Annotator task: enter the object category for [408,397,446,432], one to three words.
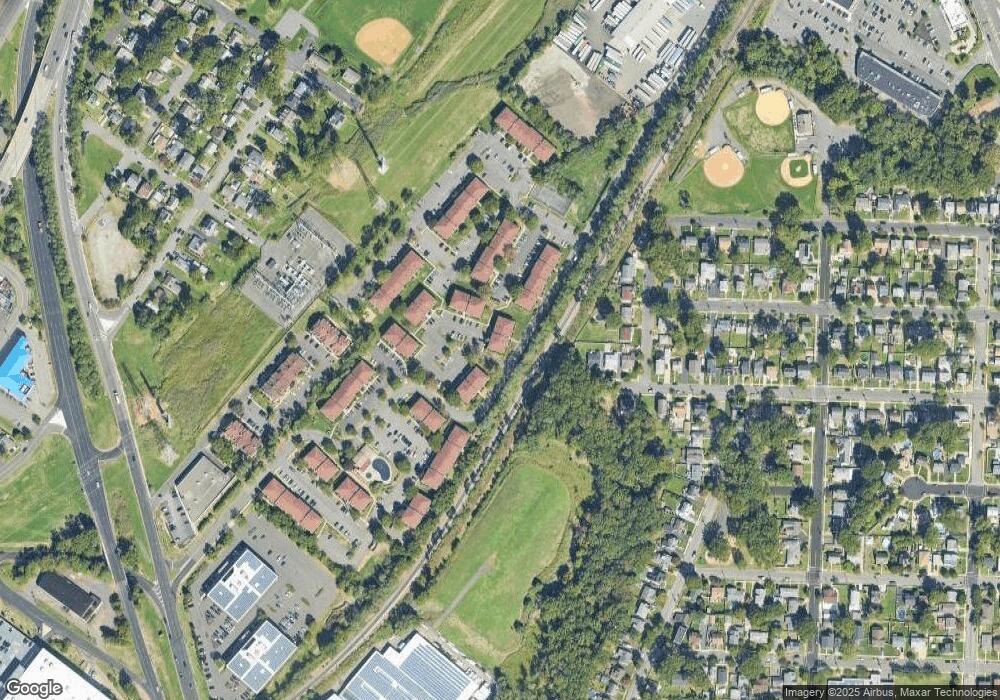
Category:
building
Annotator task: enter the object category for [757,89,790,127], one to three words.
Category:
baseball field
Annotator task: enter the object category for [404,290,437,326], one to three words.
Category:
building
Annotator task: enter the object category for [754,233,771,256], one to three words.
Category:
house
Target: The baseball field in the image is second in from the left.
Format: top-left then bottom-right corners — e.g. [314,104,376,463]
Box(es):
[704,145,744,187]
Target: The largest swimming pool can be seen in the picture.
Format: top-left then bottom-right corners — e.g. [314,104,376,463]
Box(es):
[362,455,393,482]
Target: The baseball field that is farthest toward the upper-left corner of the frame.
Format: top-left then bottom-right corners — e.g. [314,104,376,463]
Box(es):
[356,17,412,68]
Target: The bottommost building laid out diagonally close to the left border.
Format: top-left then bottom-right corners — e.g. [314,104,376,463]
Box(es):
[36,571,100,620]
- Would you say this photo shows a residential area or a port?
residential area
